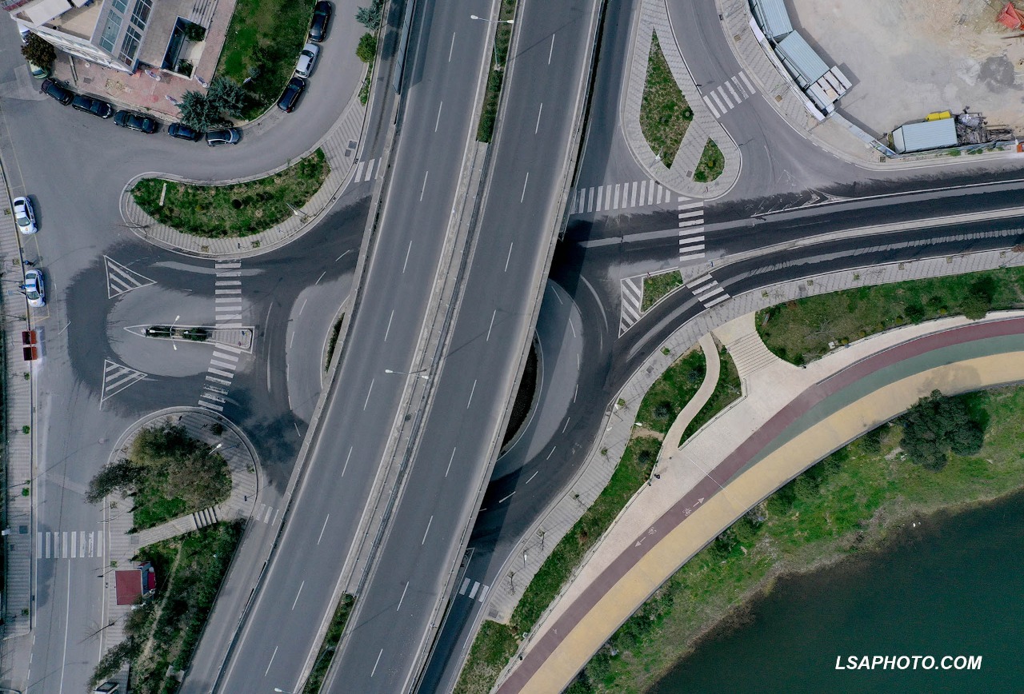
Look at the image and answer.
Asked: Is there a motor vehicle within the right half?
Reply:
No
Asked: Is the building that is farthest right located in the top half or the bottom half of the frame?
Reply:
top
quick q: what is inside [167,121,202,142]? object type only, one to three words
car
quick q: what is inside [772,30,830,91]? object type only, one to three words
building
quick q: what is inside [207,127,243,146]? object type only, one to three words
car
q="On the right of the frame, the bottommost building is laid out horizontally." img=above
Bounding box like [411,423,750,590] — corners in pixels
[883,118,958,158]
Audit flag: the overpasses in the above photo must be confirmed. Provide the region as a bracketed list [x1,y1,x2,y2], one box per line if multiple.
[210,0,604,694]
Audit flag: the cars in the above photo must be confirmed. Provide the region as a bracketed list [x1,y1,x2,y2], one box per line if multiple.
[25,270,48,308]
[28,58,52,84]
[14,196,39,236]
[115,110,158,135]
[72,93,115,119]
[278,76,305,114]
[207,127,243,146]
[40,79,75,106]
[167,121,202,142]
[309,1,333,42]
[296,43,319,79]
